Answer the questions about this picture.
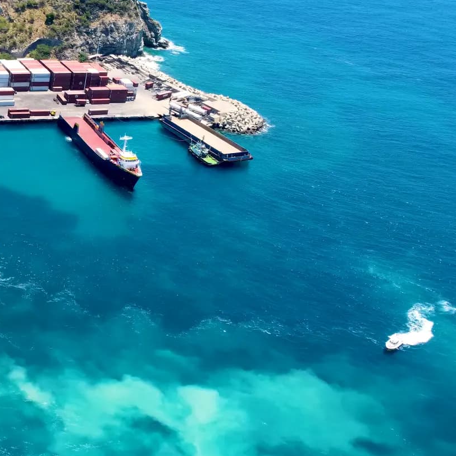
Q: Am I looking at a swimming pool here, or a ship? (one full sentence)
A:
This aerial view contains a ship.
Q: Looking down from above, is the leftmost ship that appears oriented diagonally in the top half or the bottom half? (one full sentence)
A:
You can find the leftmost ship that appears oriented diagonally in the top half.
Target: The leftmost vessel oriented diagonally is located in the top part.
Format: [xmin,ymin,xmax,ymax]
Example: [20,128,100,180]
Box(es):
[59,110,147,187]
